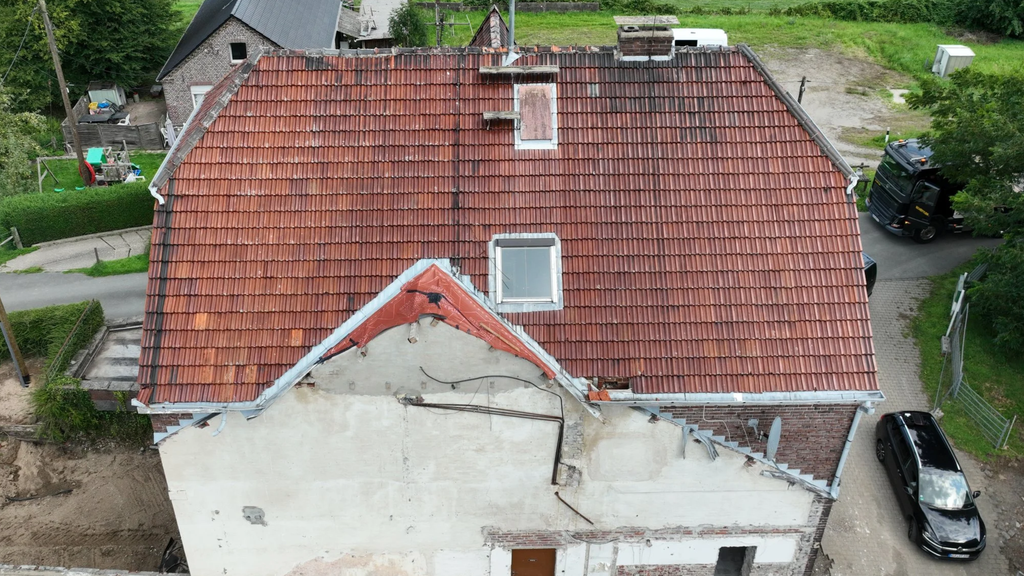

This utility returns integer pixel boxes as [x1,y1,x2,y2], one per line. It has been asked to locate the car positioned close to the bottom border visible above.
[877,407,997,558]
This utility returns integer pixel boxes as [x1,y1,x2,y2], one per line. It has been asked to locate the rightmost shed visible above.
[932,47,976,78]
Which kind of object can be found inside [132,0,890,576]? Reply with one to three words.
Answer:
house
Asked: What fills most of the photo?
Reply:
buildings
